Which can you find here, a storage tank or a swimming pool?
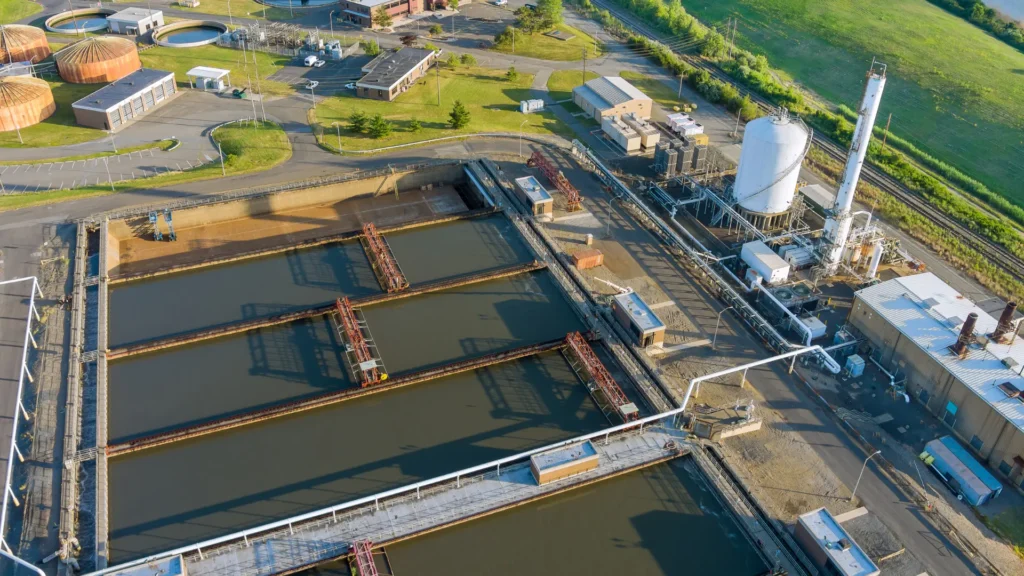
storage tank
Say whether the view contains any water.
Yes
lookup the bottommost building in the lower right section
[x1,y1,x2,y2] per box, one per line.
[792,506,883,576]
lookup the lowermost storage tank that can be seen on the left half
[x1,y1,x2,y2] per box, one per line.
[0,70,55,131]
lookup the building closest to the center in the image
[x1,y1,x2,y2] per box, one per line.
[514,176,556,229]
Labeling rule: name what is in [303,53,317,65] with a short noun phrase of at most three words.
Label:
vehicle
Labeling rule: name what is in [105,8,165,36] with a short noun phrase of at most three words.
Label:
building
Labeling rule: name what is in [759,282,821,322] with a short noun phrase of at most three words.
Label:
cooling tower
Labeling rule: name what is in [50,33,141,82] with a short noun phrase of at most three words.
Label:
storage tank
